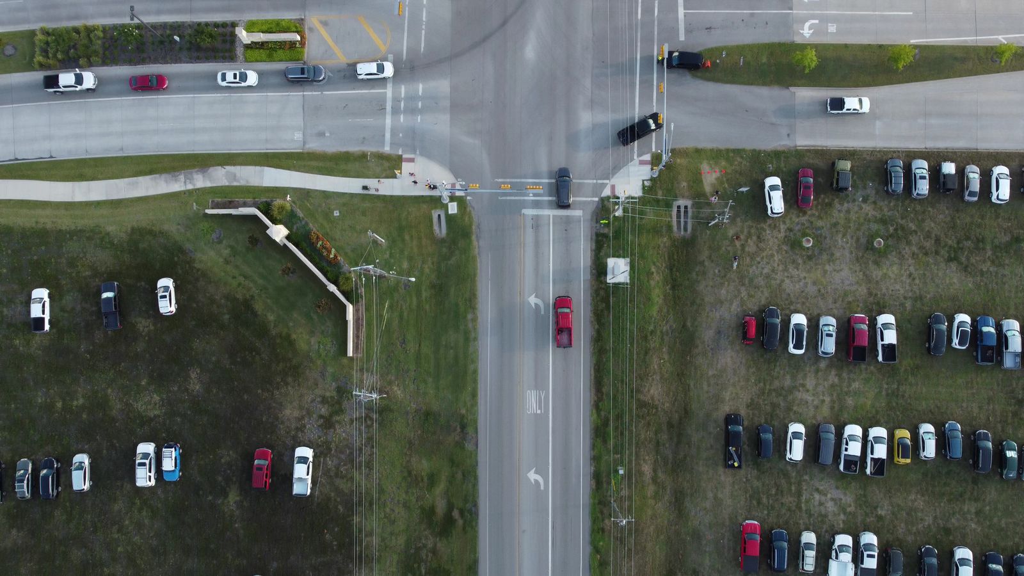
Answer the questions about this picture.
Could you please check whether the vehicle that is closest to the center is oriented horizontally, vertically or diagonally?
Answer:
vertically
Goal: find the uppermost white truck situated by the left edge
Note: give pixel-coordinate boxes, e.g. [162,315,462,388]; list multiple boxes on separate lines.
[40,69,100,94]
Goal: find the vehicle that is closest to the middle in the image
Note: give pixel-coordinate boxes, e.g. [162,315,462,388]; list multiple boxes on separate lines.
[554,296,574,349]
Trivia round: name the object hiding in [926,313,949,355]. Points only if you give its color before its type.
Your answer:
black car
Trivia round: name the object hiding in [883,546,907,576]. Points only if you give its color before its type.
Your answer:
black vehicle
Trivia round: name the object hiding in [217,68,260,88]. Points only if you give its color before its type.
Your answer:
white car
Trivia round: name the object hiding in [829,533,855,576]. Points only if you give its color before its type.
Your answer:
white truck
